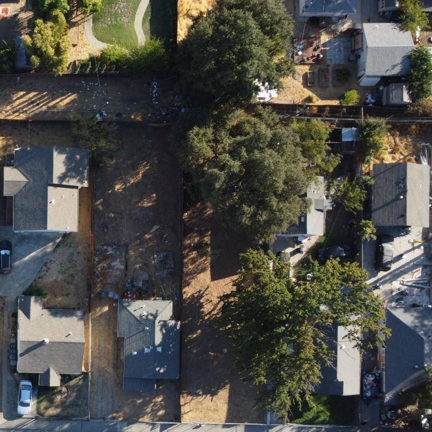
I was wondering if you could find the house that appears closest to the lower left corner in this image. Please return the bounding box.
[17,296,85,386]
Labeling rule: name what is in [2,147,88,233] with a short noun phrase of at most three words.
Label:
house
